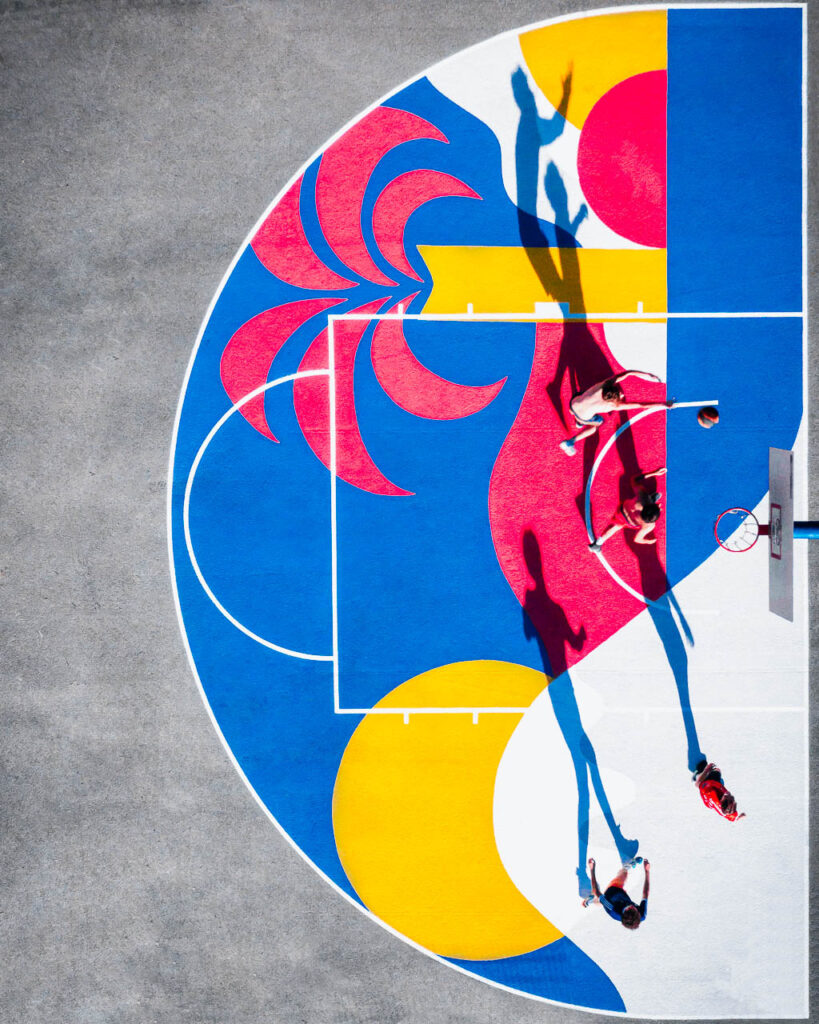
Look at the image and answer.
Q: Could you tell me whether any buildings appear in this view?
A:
No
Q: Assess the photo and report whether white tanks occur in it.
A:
No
